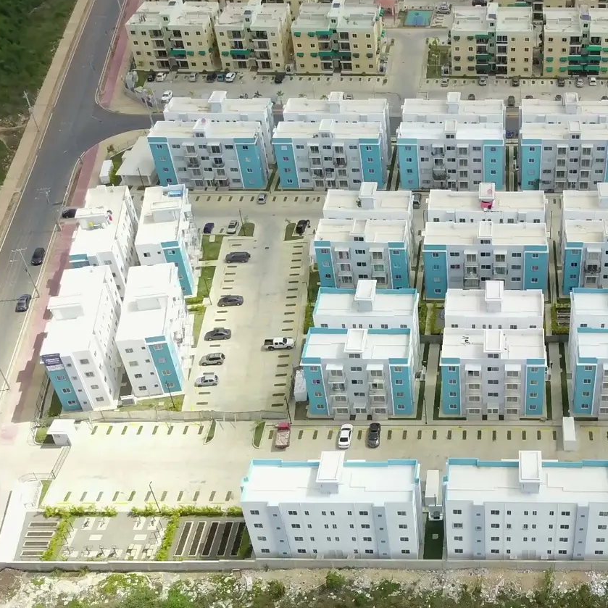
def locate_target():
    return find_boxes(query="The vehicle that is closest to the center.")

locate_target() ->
[264,336,294,350]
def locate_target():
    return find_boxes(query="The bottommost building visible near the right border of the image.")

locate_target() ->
[442,451,608,562]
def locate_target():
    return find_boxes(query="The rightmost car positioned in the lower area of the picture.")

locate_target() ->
[367,422,382,446]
